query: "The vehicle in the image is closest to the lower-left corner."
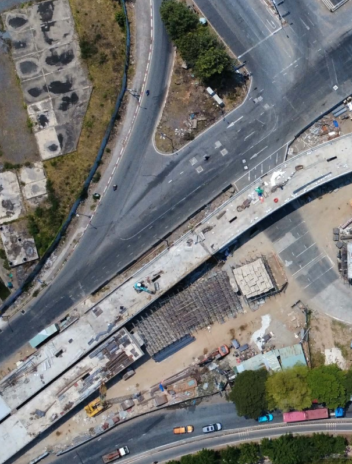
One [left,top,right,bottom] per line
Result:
[100,445,132,463]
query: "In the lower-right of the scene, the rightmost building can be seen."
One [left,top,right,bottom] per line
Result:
[277,345,308,367]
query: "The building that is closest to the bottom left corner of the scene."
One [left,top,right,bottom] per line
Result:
[30,324,64,348]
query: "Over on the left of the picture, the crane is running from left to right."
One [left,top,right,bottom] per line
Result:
[79,395,142,416]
